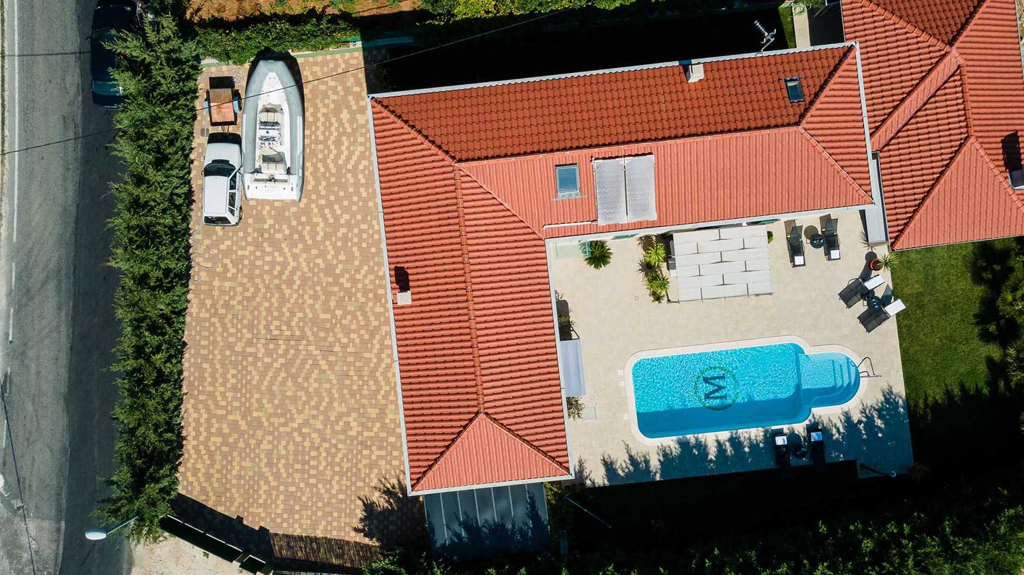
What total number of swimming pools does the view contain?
1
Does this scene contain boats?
Yes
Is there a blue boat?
No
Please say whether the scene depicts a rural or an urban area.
urban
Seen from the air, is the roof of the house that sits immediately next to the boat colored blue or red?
red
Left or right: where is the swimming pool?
right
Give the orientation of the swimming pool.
horizontally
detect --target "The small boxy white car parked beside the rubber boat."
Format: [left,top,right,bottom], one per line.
[201,142,248,230]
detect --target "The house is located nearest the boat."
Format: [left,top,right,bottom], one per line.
[362,38,880,502]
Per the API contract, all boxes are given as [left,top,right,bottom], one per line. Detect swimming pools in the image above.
[625,335,869,447]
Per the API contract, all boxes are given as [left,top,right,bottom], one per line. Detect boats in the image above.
[241,60,305,201]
